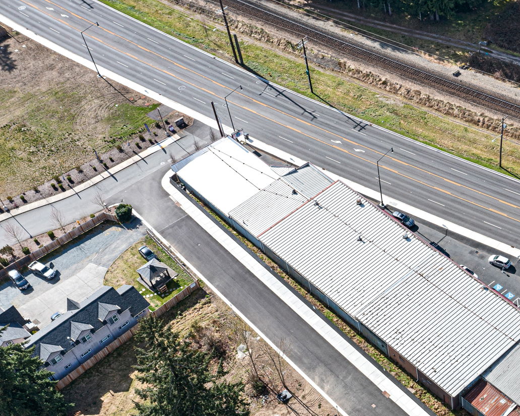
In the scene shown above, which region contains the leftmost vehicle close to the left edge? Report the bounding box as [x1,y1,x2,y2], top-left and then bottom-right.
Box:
[7,268,31,290]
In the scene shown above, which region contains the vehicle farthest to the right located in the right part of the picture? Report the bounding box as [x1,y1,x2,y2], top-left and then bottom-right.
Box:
[488,255,513,270]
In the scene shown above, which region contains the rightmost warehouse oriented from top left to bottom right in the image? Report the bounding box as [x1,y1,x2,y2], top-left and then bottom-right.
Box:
[260,179,520,411]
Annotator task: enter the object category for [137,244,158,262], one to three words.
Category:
car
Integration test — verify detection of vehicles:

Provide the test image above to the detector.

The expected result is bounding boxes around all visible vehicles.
[137,244,158,262]
[428,240,450,258]
[44,309,67,325]
[488,255,513,270]
[25,259,56,280]
[7,268,31,290]
[391,211,416,230]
